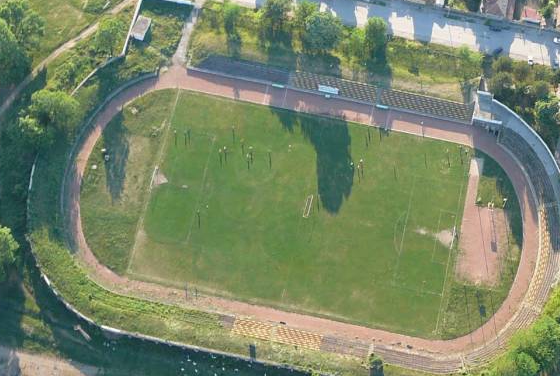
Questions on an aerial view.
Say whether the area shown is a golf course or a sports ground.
sports ground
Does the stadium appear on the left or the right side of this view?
right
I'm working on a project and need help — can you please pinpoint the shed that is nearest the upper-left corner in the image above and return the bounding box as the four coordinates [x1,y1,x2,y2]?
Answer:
[132,16,151,41]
